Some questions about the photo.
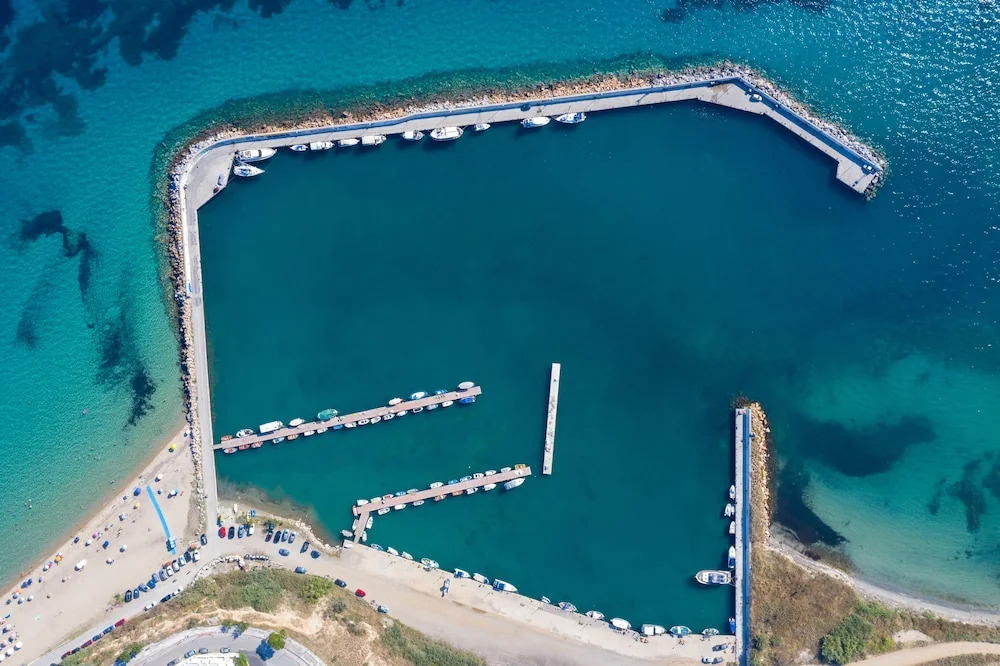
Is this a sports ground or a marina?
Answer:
marina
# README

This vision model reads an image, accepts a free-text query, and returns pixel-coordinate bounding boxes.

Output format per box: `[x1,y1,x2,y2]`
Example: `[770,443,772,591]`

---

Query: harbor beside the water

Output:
[180,77,882,666]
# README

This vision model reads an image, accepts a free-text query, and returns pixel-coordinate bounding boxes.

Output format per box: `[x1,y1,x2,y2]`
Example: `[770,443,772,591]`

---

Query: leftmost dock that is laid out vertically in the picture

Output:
[543,363,561,475]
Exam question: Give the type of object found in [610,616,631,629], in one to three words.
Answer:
boat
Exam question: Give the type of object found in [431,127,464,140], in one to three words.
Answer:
boat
